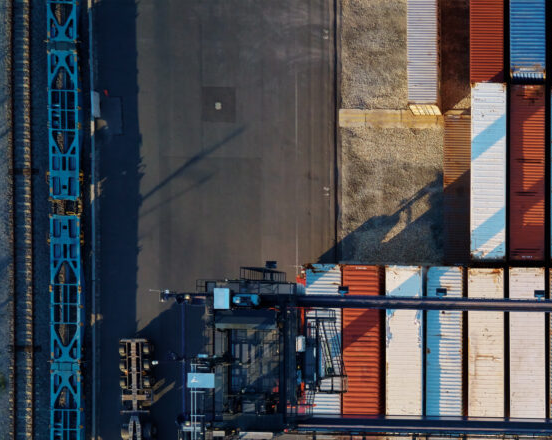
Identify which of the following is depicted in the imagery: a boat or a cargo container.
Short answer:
cargo container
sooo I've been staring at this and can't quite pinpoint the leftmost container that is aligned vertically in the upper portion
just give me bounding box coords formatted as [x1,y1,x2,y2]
[407,0,444,114]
